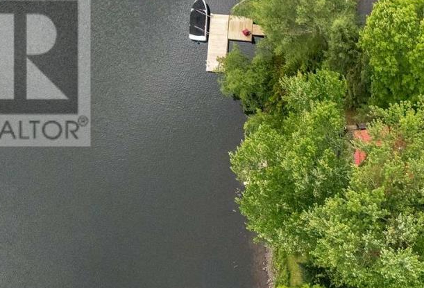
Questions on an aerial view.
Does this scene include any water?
Yes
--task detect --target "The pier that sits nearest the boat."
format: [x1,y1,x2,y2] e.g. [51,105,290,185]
[207,13,230,71]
